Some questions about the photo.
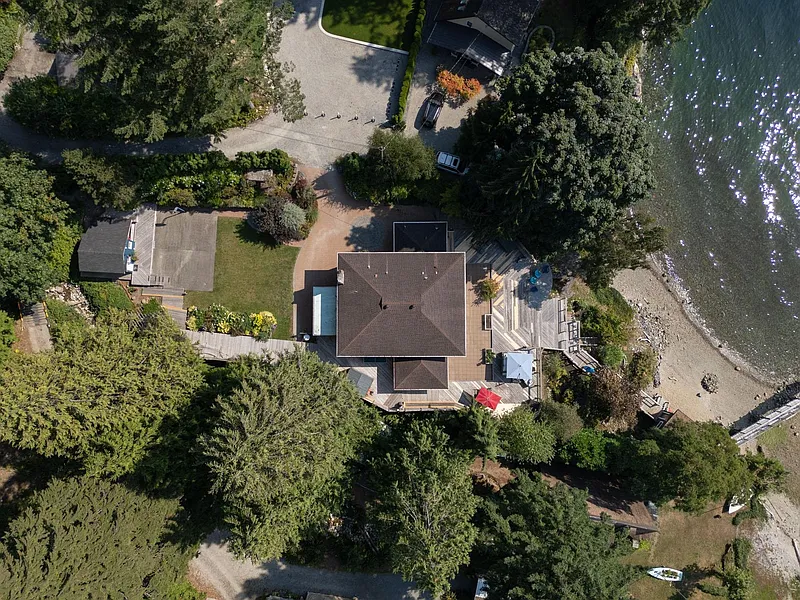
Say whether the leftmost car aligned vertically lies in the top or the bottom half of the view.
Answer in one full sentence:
Seen from above, the leftmost car aligned vertically lies in the top half of the view.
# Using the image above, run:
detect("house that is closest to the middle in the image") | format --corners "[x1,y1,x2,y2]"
[337,221,467,391]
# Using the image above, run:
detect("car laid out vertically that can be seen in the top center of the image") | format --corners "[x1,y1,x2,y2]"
[423,92,445,130]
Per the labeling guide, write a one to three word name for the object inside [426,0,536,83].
house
